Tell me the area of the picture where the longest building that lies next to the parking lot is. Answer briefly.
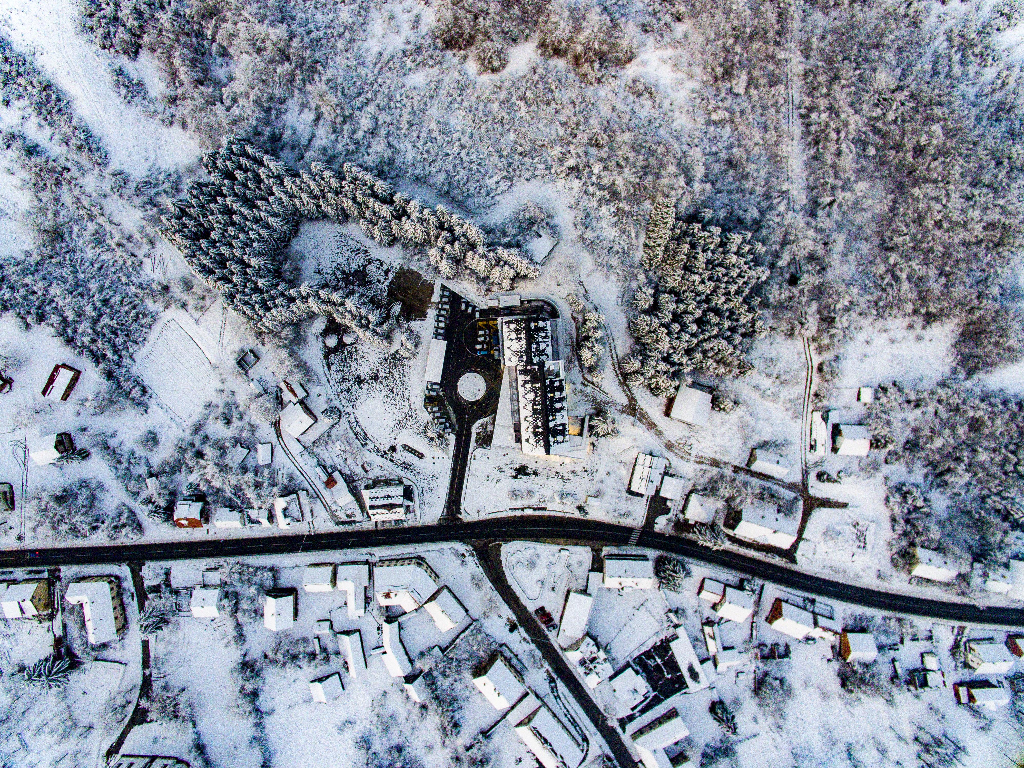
center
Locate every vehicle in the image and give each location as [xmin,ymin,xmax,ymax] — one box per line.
[475,344,486,349]
[424,397,435,403]
[430,412,441,417]
[475,307,480,319]
[442,427,454,433]
[547,623,558,631]
[540,611,552,619]
[478,336,489,341]
[426,390,437,396]
[436,309,447,315]
[439,290,451,296]
[478,330,489,335]
[434,316,446,321]
[438,297,449,302]
[428,384,439,389]
[428,406,439,412]
[543,616,555,625]
[534,606,545,614]
[494,347,499,360]
[433,334,444,340]
[467,302,474,314]
[440,422,451,428]
[435,418,446,423]
[434,322,445,327]
[438,304,450,309]
[461,299,466,310]
[433,328,445,333]
[477,350,488,356]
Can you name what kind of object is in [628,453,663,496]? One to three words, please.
building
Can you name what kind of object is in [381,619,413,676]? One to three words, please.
barn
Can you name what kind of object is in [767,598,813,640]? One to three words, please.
house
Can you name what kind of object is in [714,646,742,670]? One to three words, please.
shed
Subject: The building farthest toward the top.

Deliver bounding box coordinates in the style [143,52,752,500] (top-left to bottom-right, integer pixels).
[524,232,556,263]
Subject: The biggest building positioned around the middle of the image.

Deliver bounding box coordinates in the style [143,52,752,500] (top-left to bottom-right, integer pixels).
[492,316,569,454]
